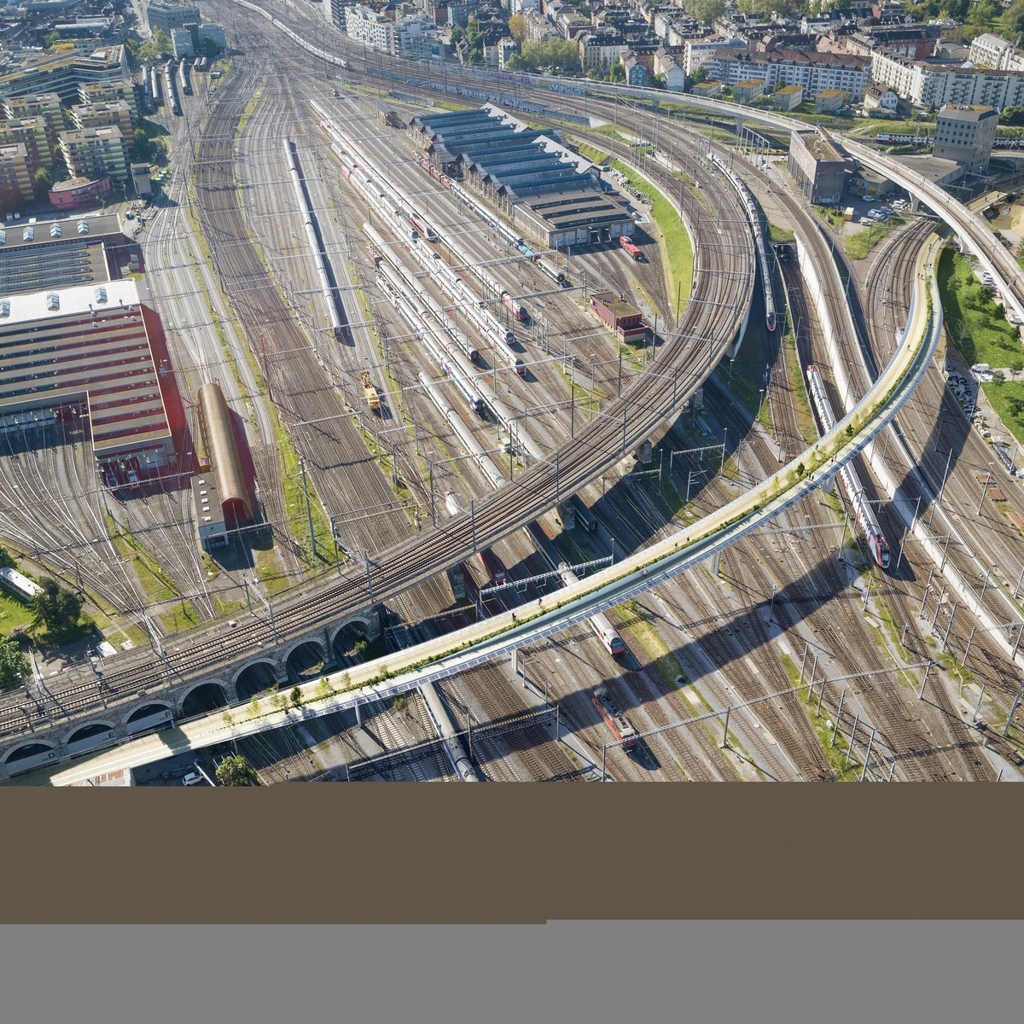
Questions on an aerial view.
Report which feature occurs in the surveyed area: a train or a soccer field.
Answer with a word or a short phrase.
train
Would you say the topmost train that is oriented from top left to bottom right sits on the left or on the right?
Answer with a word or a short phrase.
left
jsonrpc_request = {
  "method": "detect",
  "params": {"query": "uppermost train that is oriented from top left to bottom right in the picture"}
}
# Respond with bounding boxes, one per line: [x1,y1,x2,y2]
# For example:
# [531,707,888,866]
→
[226,0,350,74]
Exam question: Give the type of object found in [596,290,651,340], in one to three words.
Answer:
building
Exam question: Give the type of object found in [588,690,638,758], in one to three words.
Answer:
rail car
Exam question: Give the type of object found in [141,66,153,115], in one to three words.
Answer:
train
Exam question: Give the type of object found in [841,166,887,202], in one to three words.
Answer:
shed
